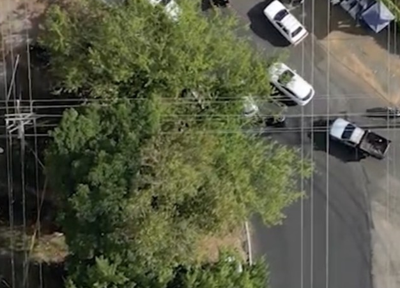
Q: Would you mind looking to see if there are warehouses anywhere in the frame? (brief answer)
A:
No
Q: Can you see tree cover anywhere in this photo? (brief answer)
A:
Yes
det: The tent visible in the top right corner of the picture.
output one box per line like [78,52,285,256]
[353,0,395,37]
